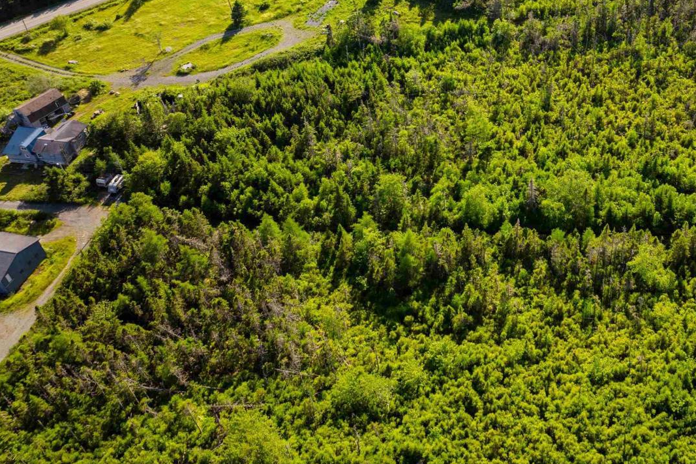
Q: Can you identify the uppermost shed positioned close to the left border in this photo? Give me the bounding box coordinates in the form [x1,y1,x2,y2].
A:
[9,94,71,127]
